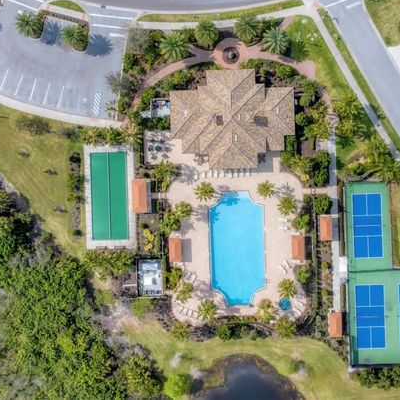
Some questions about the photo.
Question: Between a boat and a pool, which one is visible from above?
pool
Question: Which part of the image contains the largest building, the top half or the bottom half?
top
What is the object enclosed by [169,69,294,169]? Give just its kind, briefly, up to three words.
building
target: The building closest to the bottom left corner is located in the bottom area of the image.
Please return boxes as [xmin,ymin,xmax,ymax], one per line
[167,237,182,263]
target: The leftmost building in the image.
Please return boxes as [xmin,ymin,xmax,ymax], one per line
[131,178,149,214]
